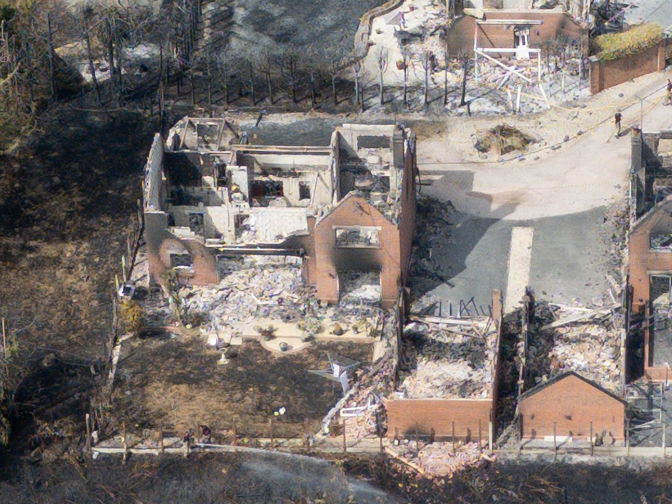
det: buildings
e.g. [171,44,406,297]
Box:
[624,79,672,310]
[139,116,417,303]
[516,274,629,444]
[447,0,591,60]
[386,276,497,437]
